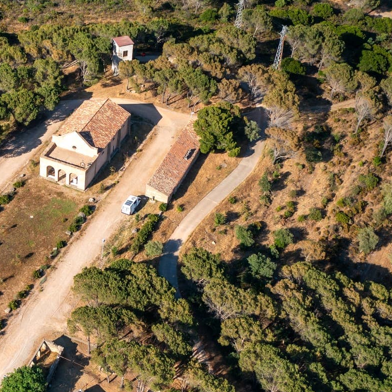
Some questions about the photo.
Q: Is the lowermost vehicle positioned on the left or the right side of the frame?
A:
left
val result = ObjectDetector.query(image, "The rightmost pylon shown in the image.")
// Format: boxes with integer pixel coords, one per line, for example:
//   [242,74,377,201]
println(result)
[271,26,289,69]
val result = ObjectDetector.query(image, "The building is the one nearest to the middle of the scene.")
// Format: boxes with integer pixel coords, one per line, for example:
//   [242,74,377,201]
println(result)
[146,119,204,203]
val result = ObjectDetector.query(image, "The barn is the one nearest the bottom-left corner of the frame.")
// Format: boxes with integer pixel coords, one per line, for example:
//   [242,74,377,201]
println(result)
[27,339,65,383]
